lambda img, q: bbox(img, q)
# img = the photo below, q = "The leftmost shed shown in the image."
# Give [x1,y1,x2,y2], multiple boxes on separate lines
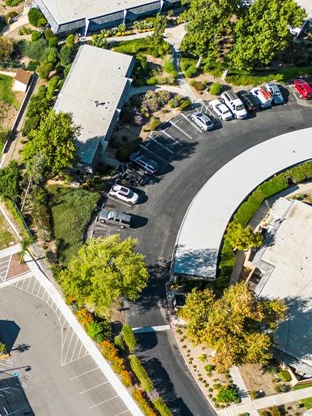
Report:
[11,68,35,91]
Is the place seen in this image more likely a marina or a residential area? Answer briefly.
residential area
